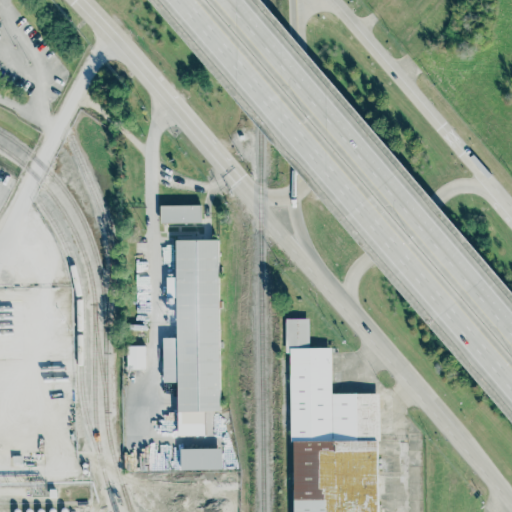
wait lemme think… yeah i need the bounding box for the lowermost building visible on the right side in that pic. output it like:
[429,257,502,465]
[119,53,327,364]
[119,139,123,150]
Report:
[293,442,378,512]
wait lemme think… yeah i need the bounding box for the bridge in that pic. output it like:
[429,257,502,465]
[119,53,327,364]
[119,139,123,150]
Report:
[149,0,512,422]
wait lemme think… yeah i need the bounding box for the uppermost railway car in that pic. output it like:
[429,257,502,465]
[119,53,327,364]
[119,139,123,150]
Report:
[70,264,82,298]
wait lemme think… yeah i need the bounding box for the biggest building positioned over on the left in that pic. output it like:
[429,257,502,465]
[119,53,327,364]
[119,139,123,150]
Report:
[163,240,221,412]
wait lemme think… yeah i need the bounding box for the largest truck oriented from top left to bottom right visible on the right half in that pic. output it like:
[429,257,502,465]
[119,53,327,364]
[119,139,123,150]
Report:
[464,148,493,176]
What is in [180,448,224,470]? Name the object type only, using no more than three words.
shed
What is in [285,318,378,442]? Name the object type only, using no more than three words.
building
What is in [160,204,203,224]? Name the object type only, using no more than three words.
building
